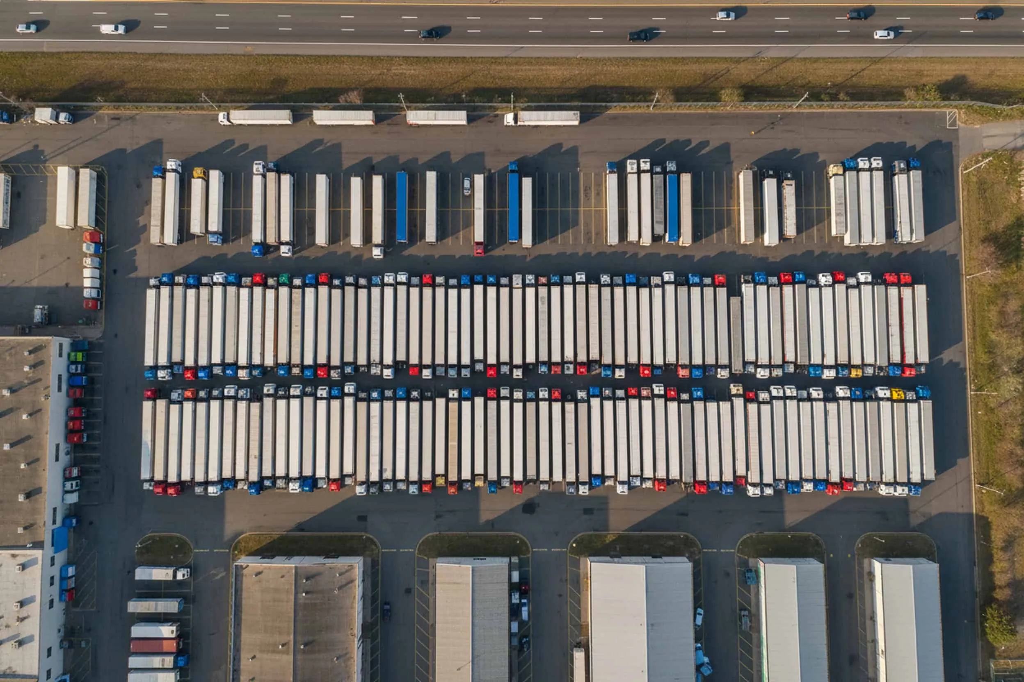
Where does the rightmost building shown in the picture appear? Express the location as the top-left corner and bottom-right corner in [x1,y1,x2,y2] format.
[872,561,944,682]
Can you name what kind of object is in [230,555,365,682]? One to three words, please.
warehouse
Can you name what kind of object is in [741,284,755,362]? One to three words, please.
trailer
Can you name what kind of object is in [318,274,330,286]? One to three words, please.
vehicle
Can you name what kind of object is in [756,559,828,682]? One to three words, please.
building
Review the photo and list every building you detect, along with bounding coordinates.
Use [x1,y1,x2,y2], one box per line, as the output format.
[434,559,509,682]
[588,555,694,682]
[872,561,944,682]
[0,336,75,682]
[756,559,828,682]
[230,555,365,682]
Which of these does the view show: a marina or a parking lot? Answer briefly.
parking lot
